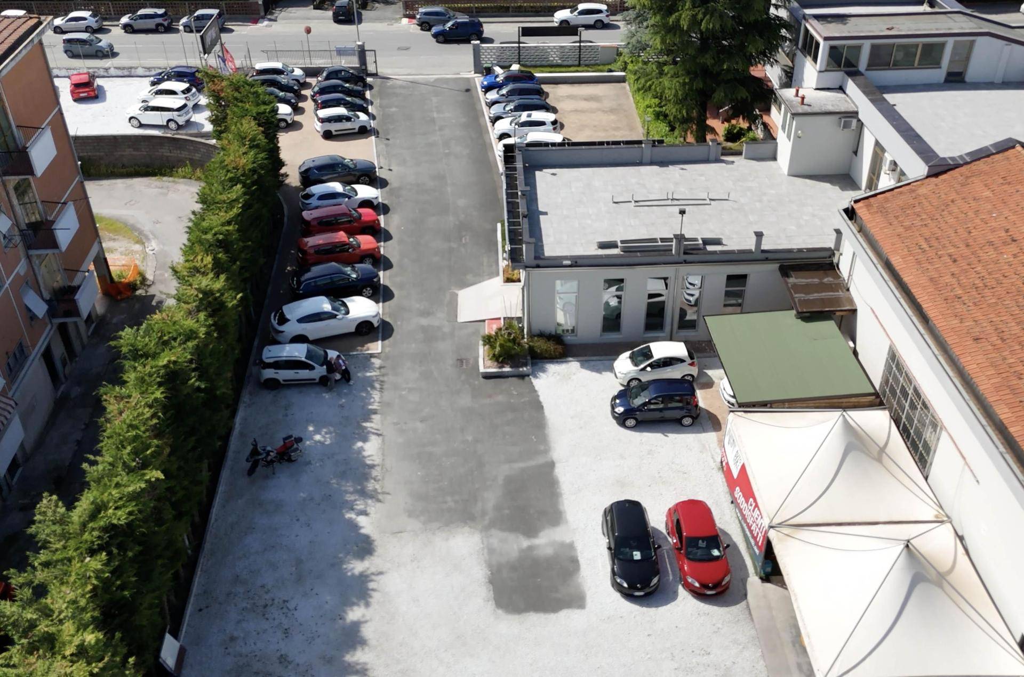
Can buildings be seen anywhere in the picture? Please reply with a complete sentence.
Yes, a building appears in the view.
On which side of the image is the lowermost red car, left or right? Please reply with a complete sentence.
The lowermost red car appears in the right half of the scene.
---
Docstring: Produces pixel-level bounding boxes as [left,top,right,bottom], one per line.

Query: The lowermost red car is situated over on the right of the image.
[663,499,728,597]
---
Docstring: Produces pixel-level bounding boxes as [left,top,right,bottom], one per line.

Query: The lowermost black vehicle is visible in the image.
[599,500,661,598]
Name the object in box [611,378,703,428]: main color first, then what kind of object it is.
black car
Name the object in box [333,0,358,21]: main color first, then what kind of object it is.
black car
